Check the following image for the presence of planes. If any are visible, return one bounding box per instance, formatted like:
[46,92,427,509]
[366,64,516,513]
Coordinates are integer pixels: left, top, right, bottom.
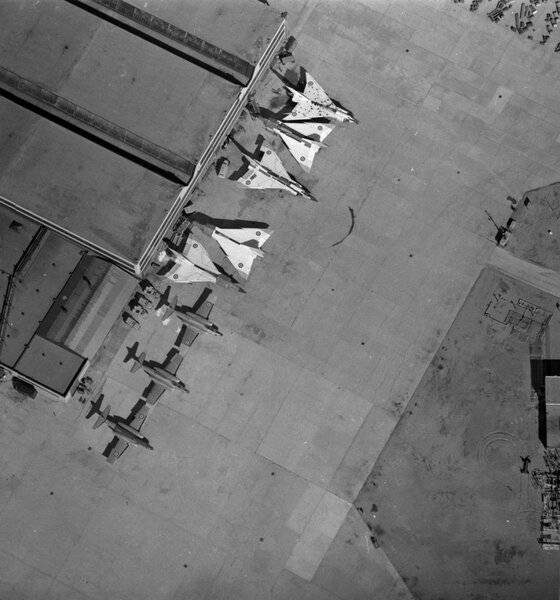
[128,345,188,404]
[162,288,222,346]
[284,72,362,128]
[92,403,152,463]
[240,145,322,206]
[167,237,250,296]
[253,111,334,173]
[186,214,273,279]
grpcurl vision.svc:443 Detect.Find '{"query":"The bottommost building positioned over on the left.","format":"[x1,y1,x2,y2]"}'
[15,335,91,398]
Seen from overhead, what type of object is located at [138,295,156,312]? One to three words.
car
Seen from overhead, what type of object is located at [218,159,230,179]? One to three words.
vehicle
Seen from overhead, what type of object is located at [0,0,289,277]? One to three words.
hangar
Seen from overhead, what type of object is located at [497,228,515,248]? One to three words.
vehicle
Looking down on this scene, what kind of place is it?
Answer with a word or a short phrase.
airport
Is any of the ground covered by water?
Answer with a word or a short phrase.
No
